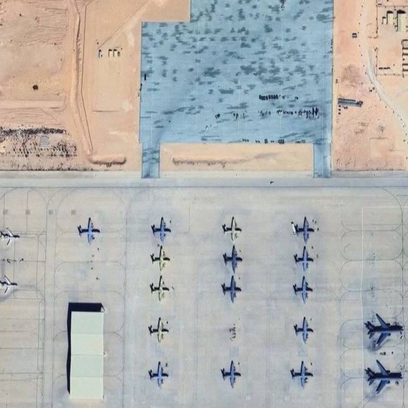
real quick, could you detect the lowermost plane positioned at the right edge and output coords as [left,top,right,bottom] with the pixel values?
[366,359,402,392]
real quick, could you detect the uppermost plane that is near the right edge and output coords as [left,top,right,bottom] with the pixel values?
[365,313,403,345]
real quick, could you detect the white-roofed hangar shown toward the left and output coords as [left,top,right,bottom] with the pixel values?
[70,310,105,400]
